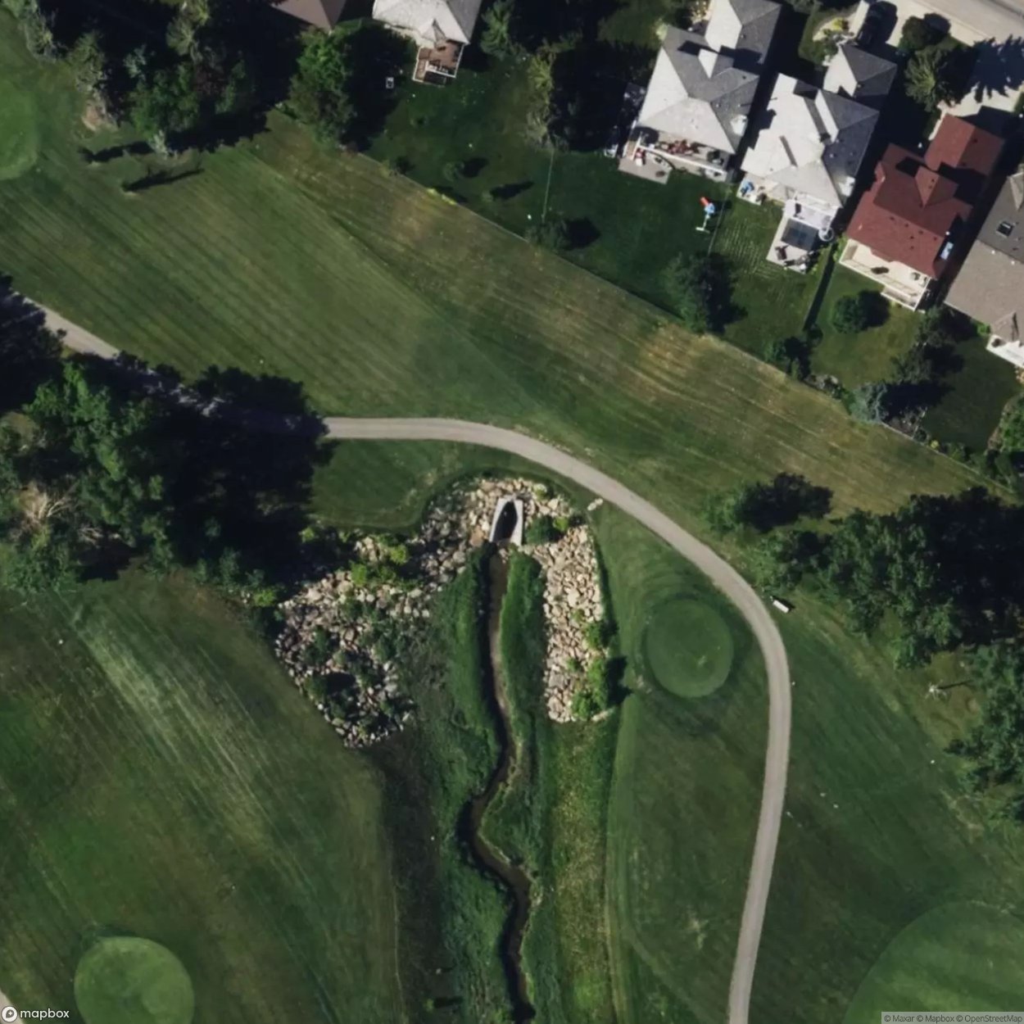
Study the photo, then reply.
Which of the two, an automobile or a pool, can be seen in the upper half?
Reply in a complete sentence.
The feature located in the upper half is an automobile.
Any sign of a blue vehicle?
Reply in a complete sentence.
No, no blue vehicle is visible in the view.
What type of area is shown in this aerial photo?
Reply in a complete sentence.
The area seen from above is a golf course.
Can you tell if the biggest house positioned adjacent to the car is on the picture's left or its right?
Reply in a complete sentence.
You can find the biggest house positioned adjacent to the car on the right side of the picture.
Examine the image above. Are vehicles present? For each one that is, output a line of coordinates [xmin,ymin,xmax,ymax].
[858,1,884,42]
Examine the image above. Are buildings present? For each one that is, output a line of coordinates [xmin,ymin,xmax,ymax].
[741,42,898,232]
[946,167,1024,367]
[840,112,1005,311]
[624,0,782,173]
[372,0,480,82]
[268,0,343,29]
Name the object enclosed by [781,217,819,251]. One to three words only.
gazebo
